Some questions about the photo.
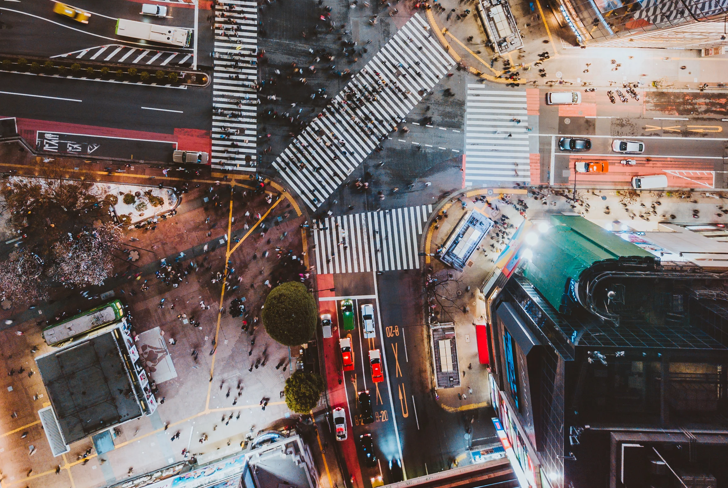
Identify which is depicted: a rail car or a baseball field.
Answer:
rail car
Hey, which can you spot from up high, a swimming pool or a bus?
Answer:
bus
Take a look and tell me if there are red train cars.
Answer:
No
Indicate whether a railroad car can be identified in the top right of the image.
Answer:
No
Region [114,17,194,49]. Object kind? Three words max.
bus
